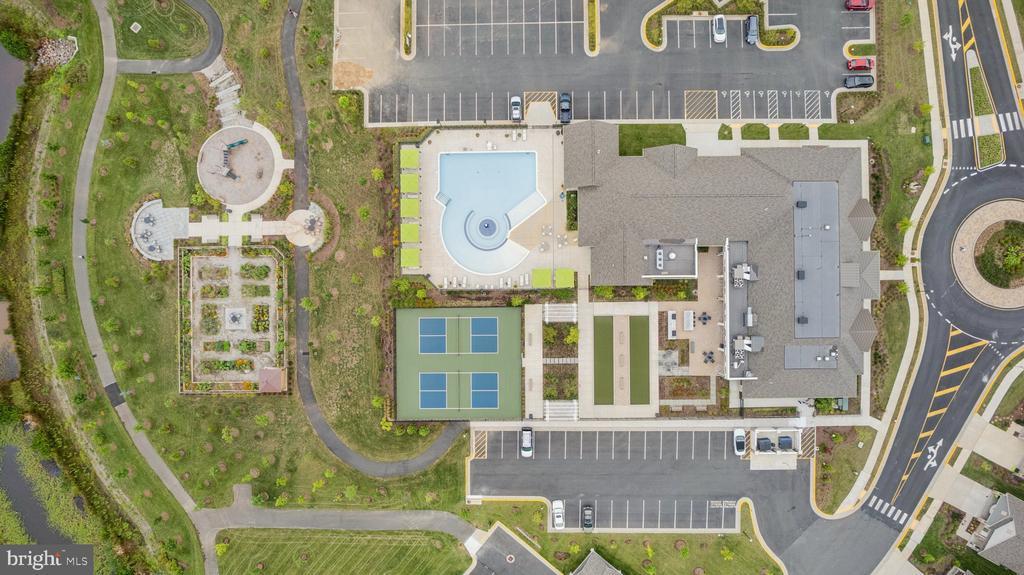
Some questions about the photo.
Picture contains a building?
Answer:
Yes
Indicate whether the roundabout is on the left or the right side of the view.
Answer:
right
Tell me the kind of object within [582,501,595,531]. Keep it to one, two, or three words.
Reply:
vehicle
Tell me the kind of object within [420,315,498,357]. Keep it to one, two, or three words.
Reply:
sports court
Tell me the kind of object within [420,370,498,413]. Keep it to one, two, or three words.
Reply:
sports court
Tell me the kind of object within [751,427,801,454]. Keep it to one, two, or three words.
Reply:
building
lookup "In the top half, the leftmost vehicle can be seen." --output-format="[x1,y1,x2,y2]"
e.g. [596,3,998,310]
[509,96,522,122]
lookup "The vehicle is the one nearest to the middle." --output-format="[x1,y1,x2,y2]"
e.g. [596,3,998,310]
[519,426,534,457]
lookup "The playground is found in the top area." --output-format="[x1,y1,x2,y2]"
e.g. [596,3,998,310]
[196,125,278,207]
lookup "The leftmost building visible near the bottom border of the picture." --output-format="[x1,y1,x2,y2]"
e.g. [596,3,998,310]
[567,547,625,575]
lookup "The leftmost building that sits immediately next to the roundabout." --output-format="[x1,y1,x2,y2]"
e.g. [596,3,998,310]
[564,121,880,397]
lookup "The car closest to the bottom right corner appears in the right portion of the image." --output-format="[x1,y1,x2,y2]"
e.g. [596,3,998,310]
[732,427,747,456]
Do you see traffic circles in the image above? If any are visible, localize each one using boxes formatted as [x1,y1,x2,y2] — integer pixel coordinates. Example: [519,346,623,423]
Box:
[924,170,1024,338]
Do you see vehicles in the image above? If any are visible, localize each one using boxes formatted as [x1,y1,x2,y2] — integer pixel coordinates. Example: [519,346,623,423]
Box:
[551,499,565,530]
[842,74,873,89]
[559,92,572,125]
[509,96,522,122]
[841,0,872,11]
[732,427,747,456]
[845,58,873,71]
[745,14,759,46]
[582,501,595,531]
[712,14,727,45]
[519,426,534,457]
